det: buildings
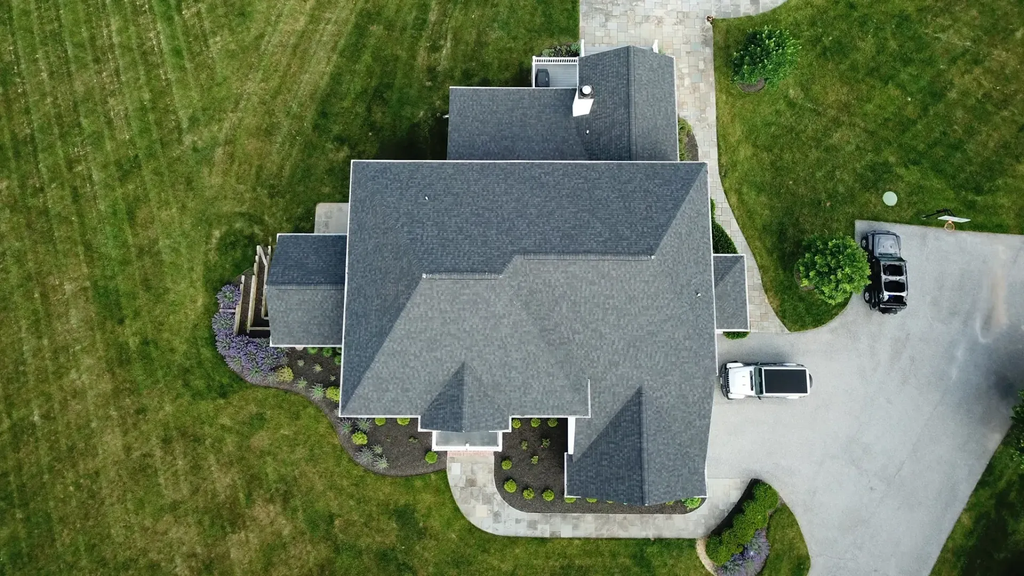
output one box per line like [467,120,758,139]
[266,39,749,506]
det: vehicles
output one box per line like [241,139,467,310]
[718,359,813,399]
[859,229,910,313]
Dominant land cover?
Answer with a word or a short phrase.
grass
